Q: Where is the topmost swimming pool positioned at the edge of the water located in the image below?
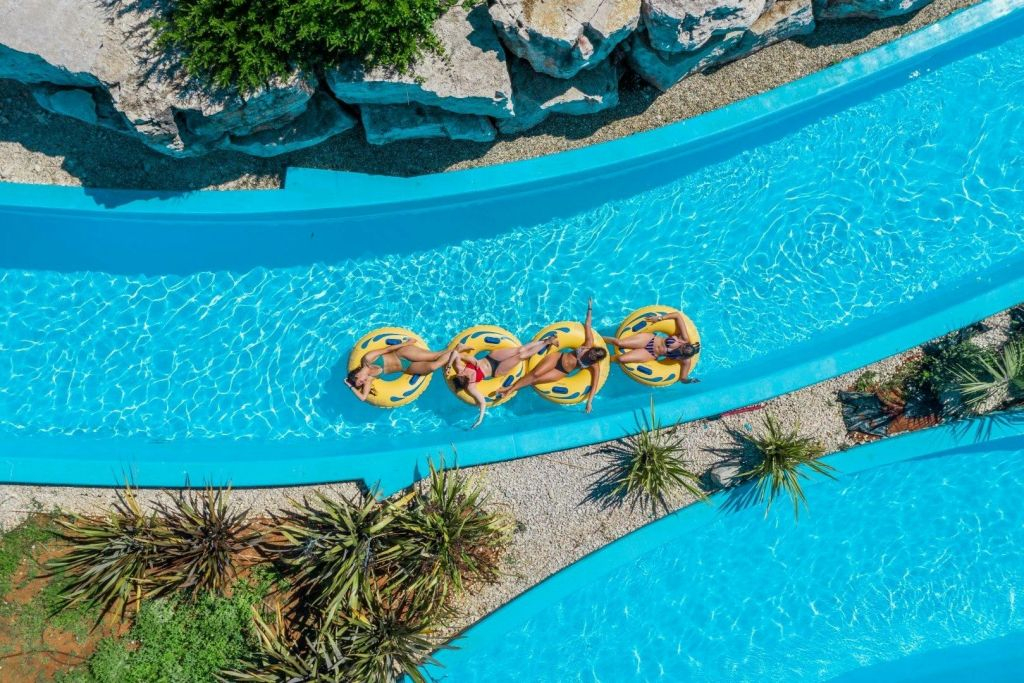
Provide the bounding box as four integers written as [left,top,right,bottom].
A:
[0,9,1024,462]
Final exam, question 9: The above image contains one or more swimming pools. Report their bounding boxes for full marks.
[0,9,1024,462]
[454,435,1024,683]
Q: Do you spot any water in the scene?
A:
Yes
